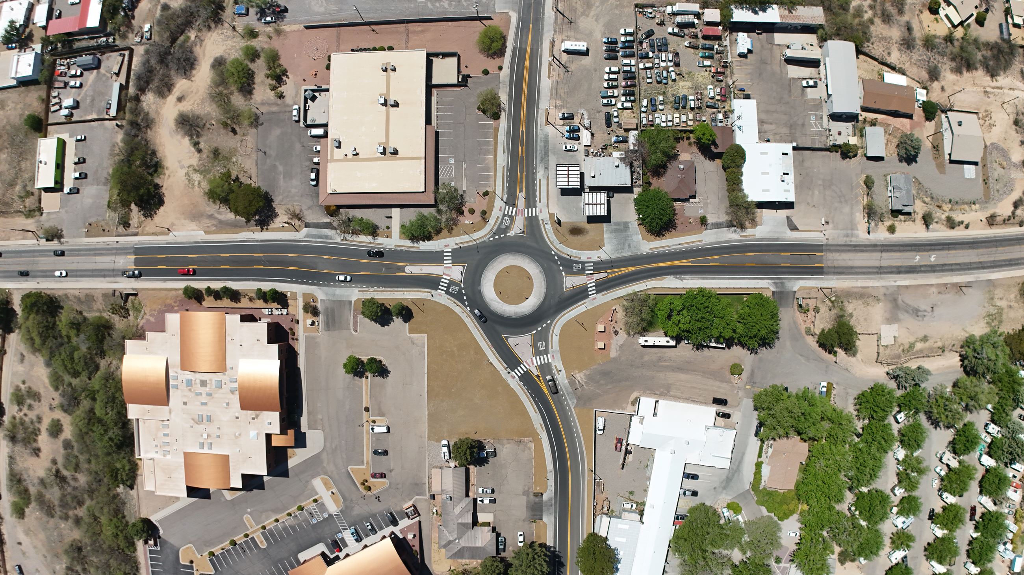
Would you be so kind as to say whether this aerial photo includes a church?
Yes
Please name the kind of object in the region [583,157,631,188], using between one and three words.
building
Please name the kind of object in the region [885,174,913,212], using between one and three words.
house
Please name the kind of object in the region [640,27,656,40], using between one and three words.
vehicle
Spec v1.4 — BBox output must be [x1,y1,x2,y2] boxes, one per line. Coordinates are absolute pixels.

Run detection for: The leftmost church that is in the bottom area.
[120,311,298,498]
